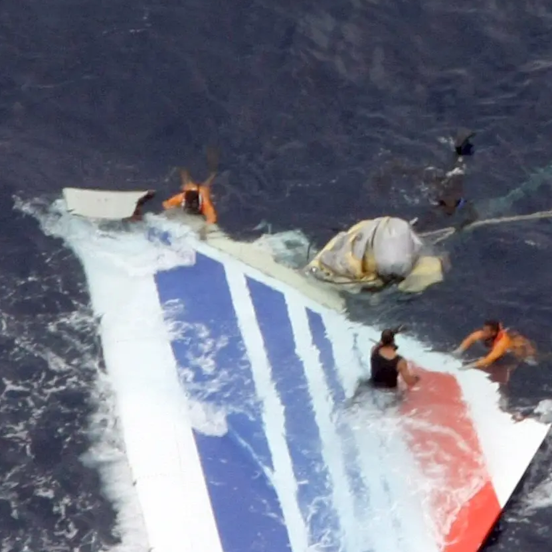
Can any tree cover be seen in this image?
No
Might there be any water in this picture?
Yes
